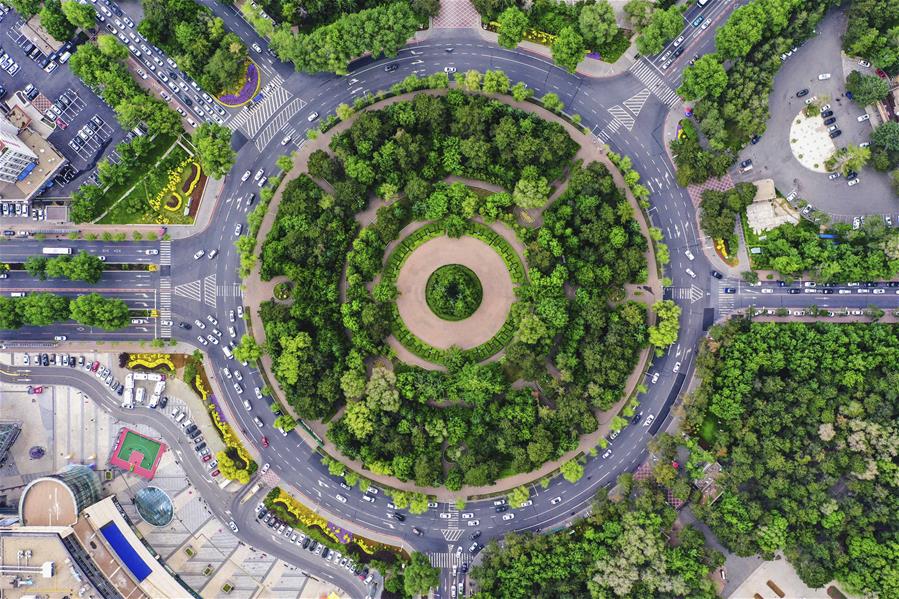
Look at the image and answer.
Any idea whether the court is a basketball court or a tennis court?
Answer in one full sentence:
The court is a basketball court.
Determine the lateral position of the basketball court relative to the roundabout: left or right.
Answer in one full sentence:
Relative to the roundabout, the basketball court is on the left.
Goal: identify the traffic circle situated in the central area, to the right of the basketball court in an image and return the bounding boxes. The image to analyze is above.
[200,38,708,546]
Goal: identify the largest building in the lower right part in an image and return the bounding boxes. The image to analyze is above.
[696,463,722,503]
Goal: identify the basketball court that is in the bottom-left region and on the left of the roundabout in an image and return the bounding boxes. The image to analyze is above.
[107,428,168,481]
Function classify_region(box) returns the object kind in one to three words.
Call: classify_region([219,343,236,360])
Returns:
vehicle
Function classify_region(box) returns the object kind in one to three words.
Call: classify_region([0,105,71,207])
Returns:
building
